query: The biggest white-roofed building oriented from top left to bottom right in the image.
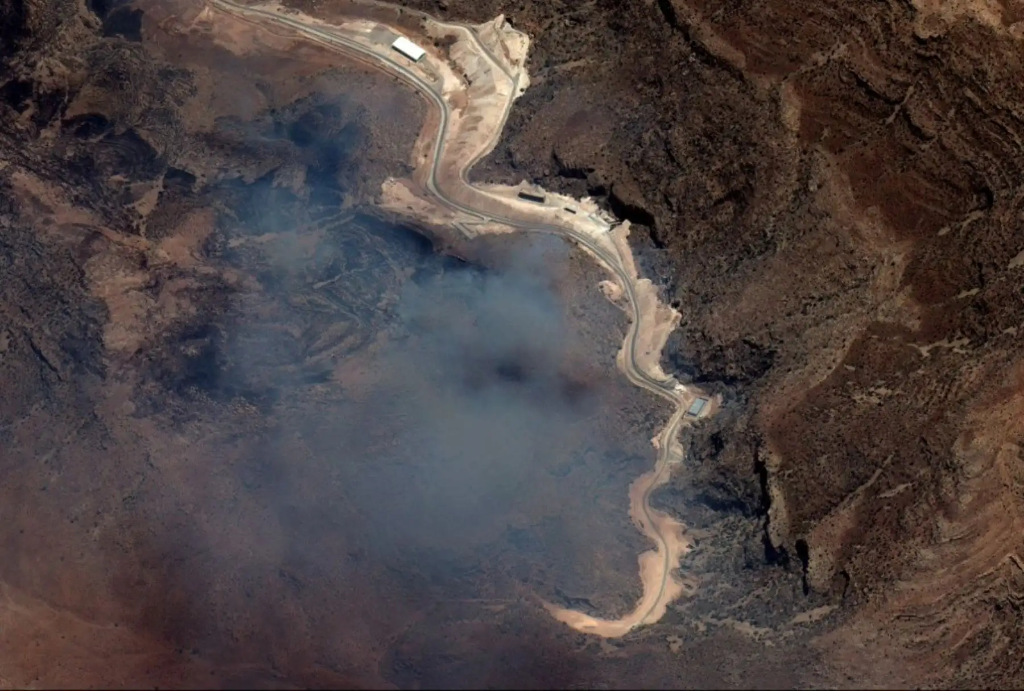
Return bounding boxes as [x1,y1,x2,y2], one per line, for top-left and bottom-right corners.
[393,36,424,60]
